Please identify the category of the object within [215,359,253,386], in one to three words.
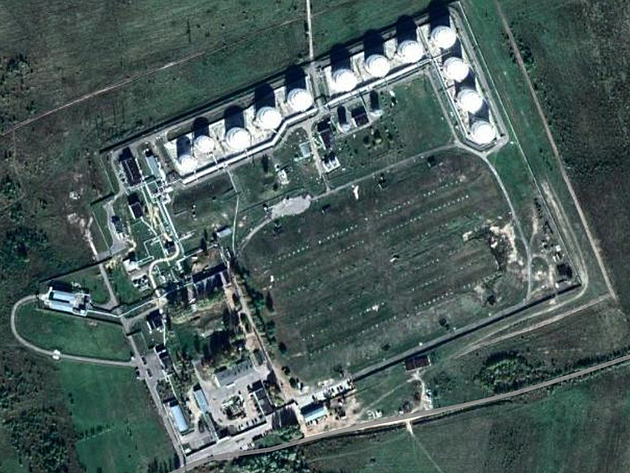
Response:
building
